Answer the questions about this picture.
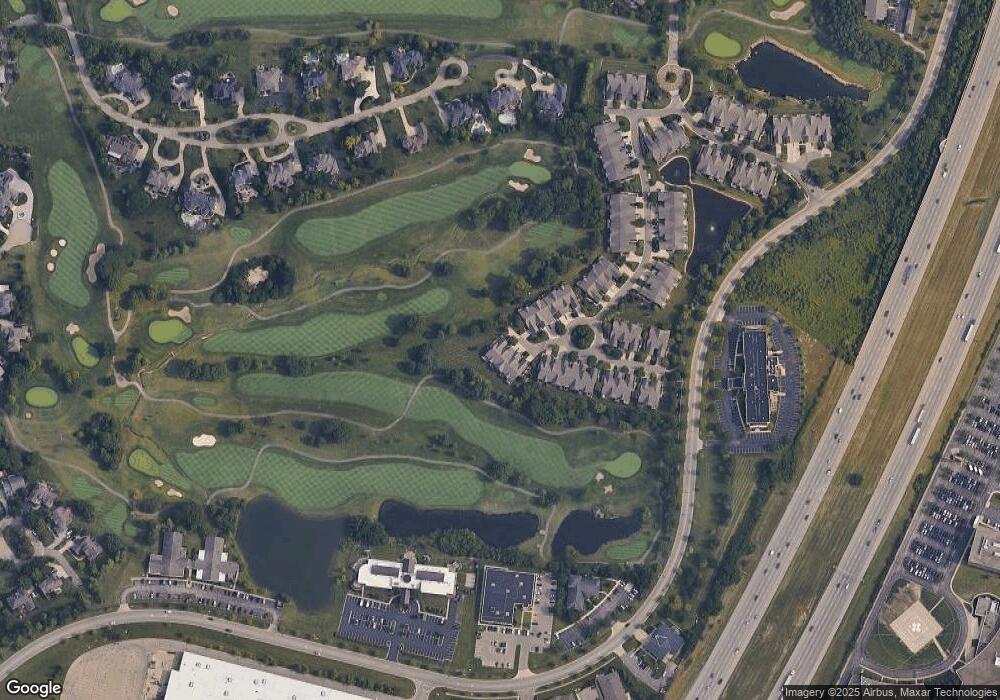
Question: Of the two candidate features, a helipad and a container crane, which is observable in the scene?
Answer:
helipad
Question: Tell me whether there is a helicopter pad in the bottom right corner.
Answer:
Yes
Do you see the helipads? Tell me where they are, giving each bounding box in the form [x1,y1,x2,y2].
[891,597,947,659]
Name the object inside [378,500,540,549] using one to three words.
pond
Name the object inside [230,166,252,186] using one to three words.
house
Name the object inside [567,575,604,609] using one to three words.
building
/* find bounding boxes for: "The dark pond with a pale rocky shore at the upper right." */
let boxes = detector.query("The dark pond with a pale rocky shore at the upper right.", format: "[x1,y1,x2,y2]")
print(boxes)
[736,43,868,102]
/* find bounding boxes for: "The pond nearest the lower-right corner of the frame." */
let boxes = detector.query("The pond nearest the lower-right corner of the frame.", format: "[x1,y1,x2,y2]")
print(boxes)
[552,511,643,558]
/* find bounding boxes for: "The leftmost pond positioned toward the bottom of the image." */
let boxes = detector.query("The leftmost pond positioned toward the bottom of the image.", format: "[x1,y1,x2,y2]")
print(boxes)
[238,494,347,612]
